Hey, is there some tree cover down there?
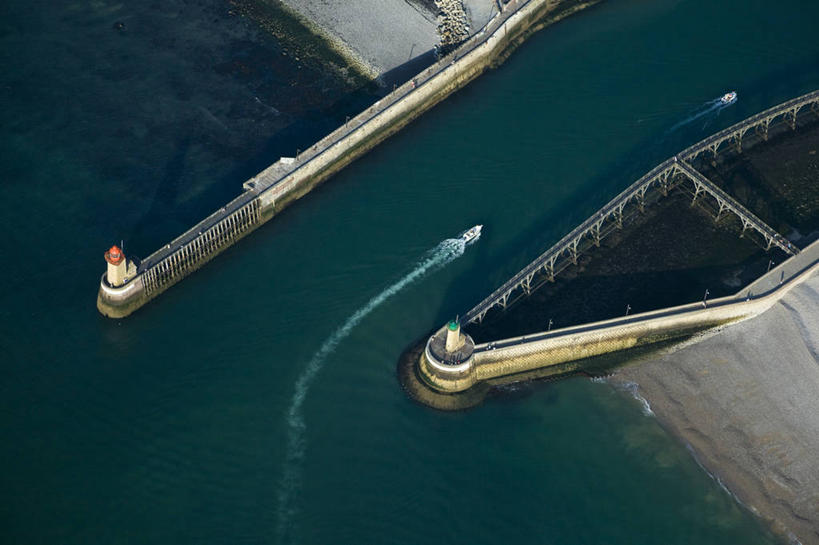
No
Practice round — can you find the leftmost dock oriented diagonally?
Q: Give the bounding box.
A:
[96,0,569,319]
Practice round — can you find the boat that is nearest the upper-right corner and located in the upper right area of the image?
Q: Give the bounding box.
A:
[720,91,736,103]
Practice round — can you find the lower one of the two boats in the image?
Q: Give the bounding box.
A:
[461,222,482,242]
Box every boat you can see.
[461,222,482,242]
[720,91,736,103]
